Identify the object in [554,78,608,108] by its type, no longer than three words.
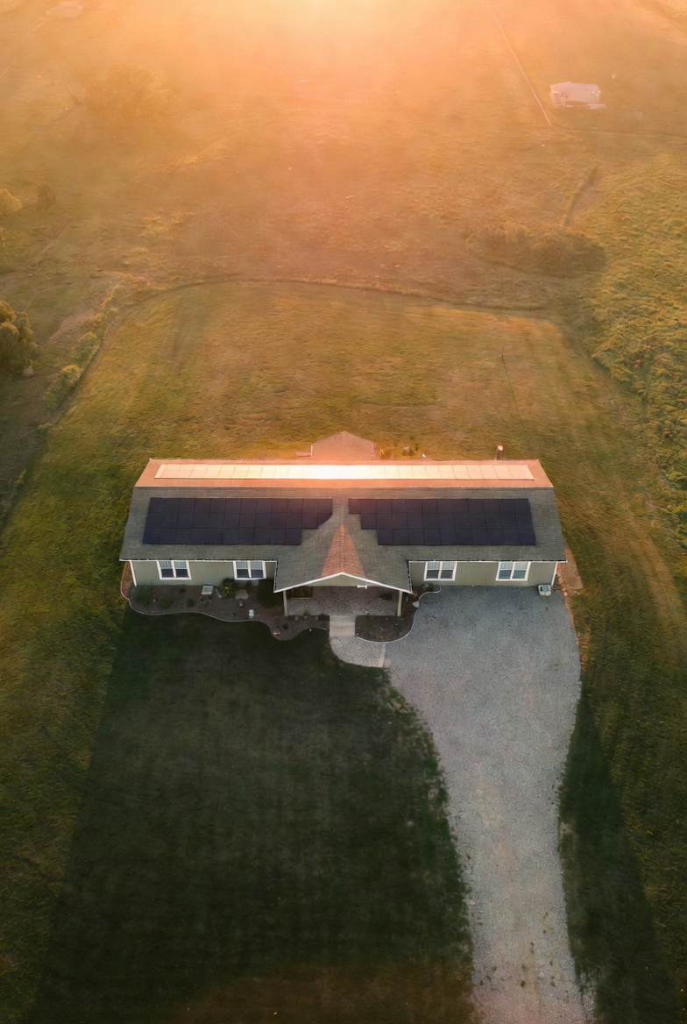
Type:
barn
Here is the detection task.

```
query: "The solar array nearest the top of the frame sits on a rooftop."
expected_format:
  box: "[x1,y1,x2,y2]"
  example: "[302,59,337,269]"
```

[153,464,535,477]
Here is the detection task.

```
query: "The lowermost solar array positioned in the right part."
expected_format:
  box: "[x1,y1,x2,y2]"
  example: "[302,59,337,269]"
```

[349,496,536,543]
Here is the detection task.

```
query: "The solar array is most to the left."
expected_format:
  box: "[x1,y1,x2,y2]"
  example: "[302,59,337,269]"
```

[143,496,332,543]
